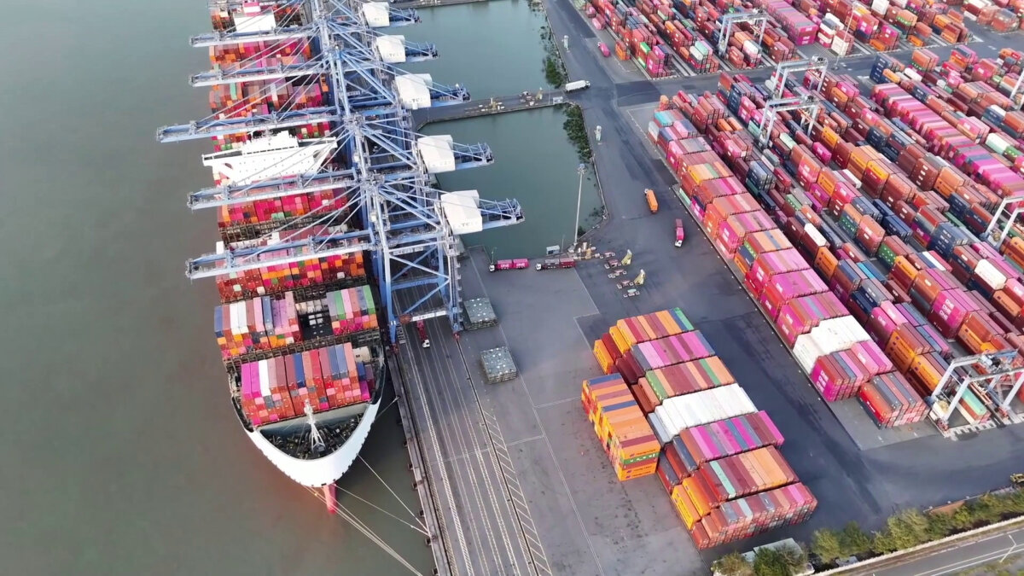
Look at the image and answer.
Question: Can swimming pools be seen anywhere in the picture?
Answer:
No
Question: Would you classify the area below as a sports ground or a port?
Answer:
port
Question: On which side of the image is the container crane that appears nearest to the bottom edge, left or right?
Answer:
right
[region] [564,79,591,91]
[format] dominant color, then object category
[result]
white vehicle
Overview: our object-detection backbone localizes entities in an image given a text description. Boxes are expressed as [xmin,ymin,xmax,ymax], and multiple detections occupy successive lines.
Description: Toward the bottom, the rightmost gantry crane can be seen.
[922,338,1024,434]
